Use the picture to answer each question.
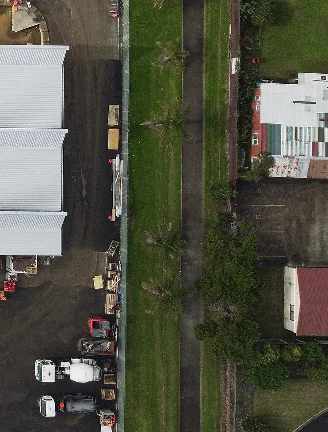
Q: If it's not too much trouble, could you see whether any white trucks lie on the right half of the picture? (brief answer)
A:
No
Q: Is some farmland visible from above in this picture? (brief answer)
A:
No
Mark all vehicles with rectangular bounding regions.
[38,392,100,421]
[33,357,106,386]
